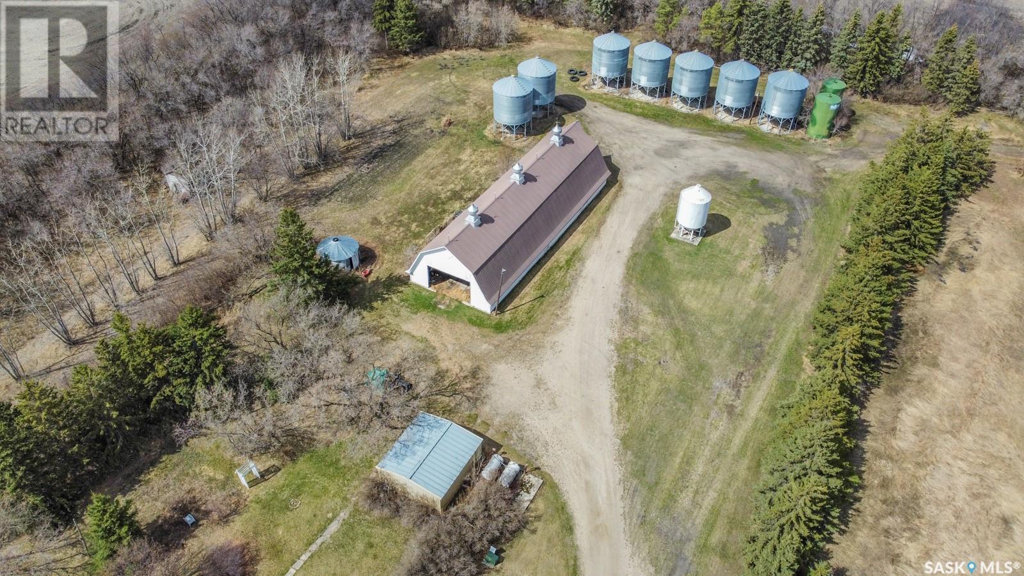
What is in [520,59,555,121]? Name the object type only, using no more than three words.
silo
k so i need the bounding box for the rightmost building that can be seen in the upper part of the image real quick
[403,118,614,316]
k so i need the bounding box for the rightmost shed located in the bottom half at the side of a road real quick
[376,411,483,515]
